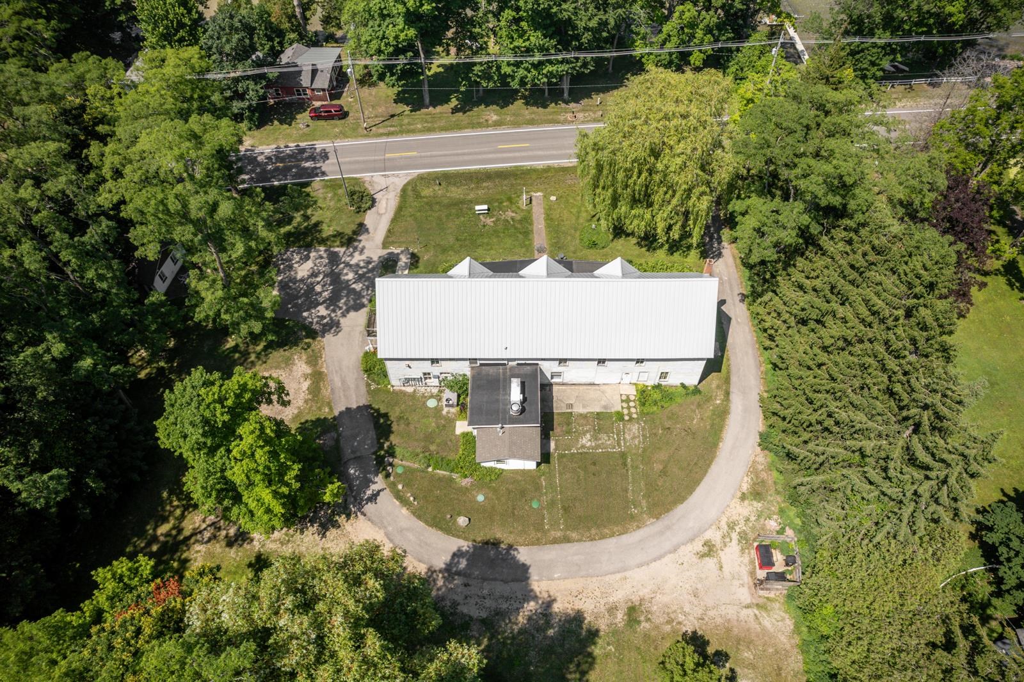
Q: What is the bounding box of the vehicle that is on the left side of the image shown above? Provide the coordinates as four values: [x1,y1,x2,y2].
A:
[308,101,347,120]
